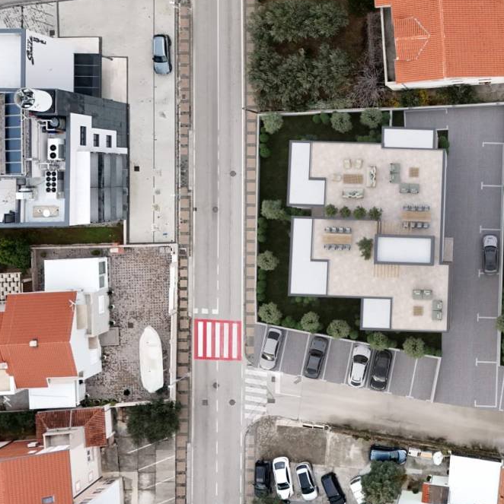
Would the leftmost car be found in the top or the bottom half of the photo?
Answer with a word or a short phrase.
top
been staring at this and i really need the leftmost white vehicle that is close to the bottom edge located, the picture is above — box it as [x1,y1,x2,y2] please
[273,456,294,499]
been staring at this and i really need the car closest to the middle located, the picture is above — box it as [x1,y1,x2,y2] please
[258,327,283,371]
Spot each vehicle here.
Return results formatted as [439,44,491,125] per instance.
[348,473,376,504]
[273,456,294,499]
[480,233,499,275]
[258,327,283,371]
[348,345,372,389]
[296,461,319,500]
[253,459,272,496]
[305,336,328,379]
[150,32,172,75]
[370,349,392,392]
[321,471,346,504]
